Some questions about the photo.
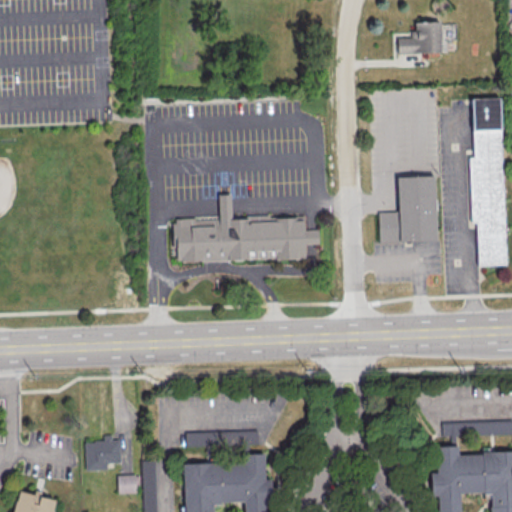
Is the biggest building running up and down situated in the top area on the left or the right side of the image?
right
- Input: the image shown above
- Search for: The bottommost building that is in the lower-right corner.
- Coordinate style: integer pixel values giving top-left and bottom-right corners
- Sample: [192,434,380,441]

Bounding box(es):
[434,447,512,512]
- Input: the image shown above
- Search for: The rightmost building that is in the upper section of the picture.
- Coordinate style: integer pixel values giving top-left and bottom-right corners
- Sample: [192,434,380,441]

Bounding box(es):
[470,98,509,268]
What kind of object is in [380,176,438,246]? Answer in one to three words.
building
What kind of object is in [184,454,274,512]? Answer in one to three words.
building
